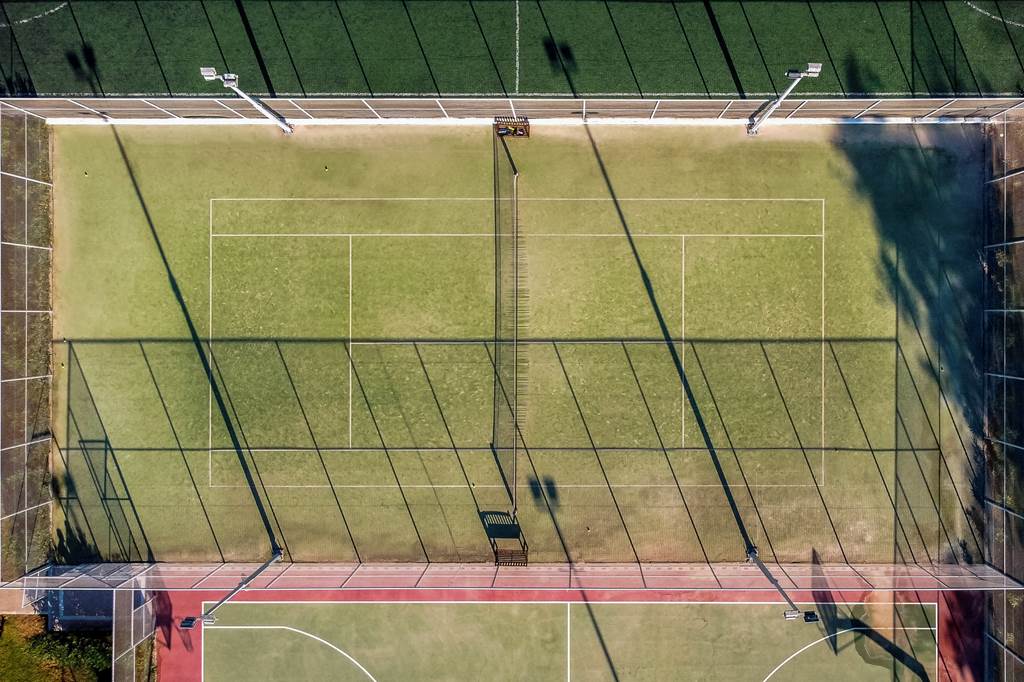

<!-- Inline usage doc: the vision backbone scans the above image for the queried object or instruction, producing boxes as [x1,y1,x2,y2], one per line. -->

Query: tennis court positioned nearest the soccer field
[55,124,981,562]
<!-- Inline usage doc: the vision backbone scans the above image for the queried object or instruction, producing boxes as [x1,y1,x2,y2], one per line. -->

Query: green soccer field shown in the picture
[0,0,1024,119]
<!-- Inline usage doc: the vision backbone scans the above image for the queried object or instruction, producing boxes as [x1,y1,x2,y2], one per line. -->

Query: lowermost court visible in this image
[157,571,981,682]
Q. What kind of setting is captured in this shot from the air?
sports ground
